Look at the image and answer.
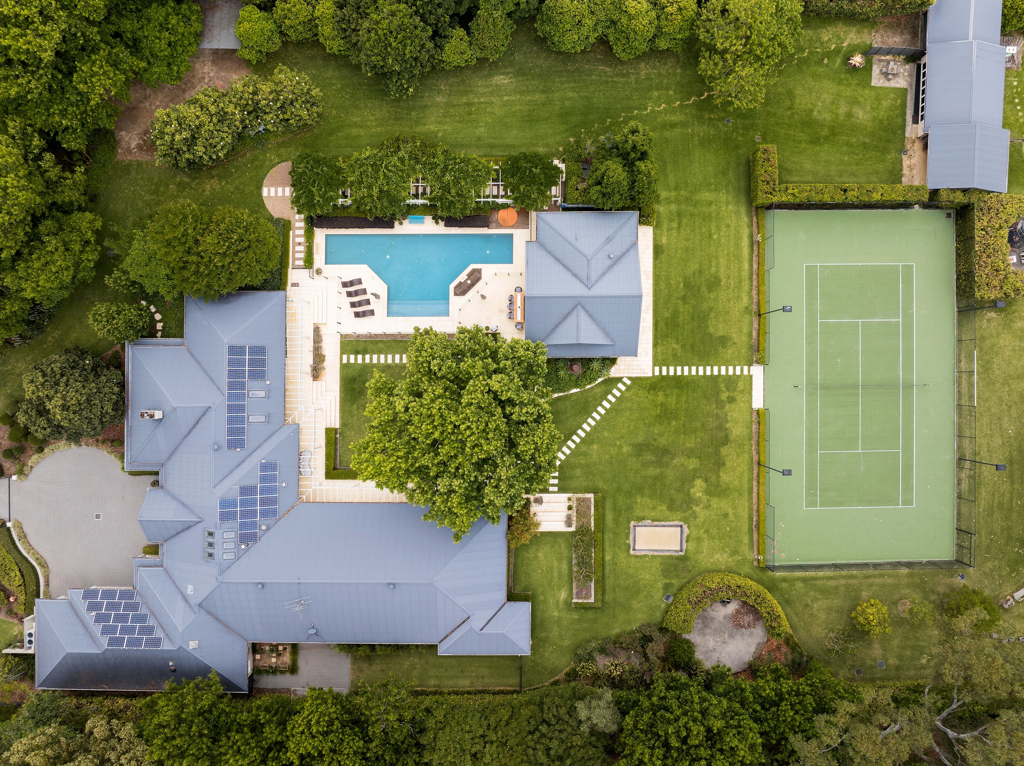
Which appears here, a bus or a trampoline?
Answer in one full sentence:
Visible in the photo is a trampoline.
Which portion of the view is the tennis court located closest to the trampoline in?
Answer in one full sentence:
You can find the tennis court located closest to the trampoline in the right area of the picture.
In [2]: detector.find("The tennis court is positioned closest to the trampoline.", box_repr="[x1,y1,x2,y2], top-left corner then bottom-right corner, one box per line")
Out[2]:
[765,209,957,566]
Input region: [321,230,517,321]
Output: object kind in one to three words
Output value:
swimming pool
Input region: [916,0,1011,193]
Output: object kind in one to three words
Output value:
building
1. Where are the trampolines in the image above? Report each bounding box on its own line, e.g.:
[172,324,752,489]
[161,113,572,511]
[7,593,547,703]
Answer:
[632,523,685,554]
